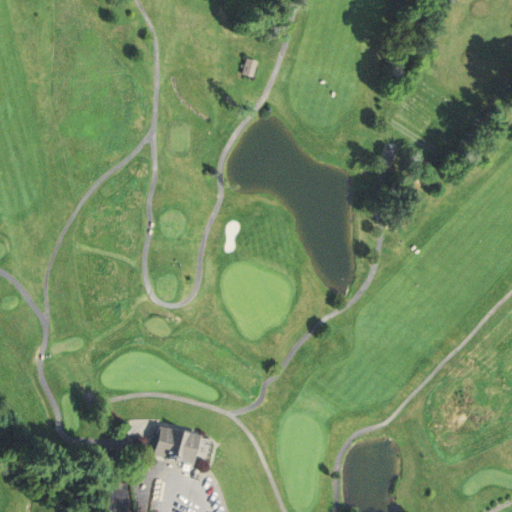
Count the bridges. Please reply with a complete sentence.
I count no bridges.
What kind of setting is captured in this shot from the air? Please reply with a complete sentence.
It's a golf course.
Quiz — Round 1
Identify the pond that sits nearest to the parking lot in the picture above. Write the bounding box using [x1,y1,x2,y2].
[343,438,400,512]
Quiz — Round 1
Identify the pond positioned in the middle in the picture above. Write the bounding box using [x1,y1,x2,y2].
[227,117,355,294]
